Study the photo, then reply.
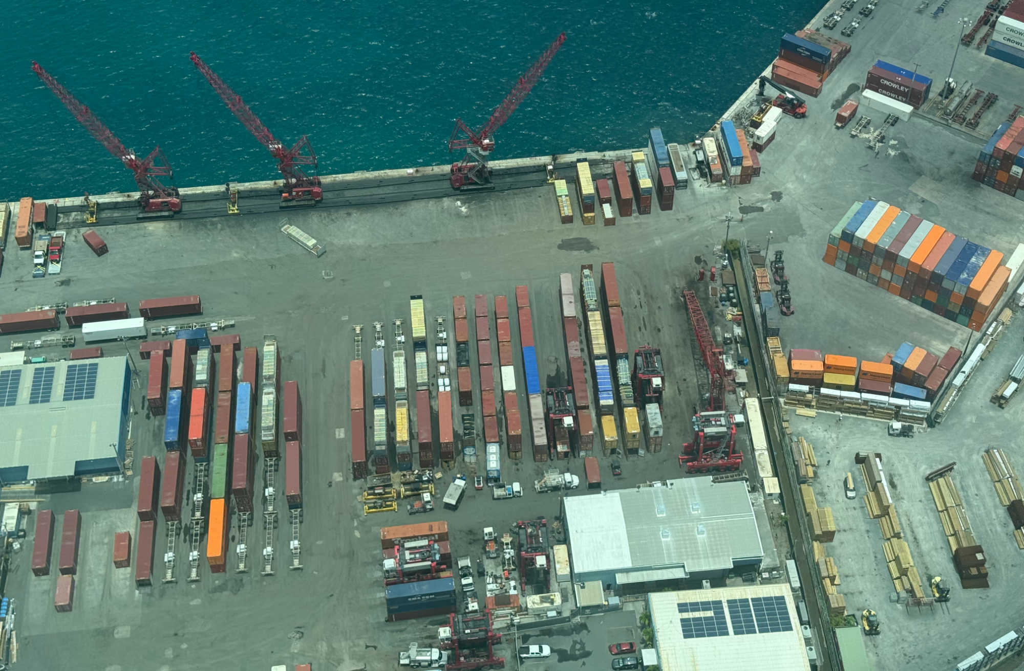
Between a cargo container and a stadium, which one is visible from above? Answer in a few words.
cargo container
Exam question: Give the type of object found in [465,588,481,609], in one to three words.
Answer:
vehicle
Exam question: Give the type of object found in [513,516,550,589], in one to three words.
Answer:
work vehicle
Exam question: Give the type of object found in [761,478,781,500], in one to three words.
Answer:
building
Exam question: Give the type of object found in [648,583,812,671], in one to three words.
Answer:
shed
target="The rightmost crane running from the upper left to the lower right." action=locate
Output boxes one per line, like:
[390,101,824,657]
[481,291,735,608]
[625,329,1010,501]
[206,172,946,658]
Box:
[189,49,319,206]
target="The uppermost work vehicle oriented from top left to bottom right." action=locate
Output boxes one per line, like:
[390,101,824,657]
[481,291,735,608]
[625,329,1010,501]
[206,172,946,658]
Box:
[762,78,809,116]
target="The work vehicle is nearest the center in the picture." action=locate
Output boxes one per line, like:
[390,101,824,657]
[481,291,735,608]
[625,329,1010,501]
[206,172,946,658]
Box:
[543,383,576,452]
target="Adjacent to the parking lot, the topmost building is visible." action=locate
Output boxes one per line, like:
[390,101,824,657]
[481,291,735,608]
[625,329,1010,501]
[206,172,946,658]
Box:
[563,475,763,591]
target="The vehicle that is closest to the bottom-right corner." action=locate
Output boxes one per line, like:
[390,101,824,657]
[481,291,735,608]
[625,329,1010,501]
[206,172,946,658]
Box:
[928,577,951,617]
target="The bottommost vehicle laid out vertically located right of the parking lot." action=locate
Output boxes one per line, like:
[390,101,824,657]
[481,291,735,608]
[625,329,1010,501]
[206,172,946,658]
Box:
[863,608,880,649]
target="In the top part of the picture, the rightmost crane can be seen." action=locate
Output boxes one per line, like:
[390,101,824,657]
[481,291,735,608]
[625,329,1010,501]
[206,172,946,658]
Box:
[452,30,568,191]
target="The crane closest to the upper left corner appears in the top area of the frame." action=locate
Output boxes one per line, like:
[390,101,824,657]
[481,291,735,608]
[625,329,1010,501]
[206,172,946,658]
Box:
[30,59,177,217]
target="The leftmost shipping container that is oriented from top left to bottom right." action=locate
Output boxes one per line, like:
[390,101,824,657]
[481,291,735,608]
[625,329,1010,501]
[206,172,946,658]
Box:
[83,229,109,257]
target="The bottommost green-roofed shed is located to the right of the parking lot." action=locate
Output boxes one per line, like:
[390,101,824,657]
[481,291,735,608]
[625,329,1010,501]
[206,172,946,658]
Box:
[833,626,870,671]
